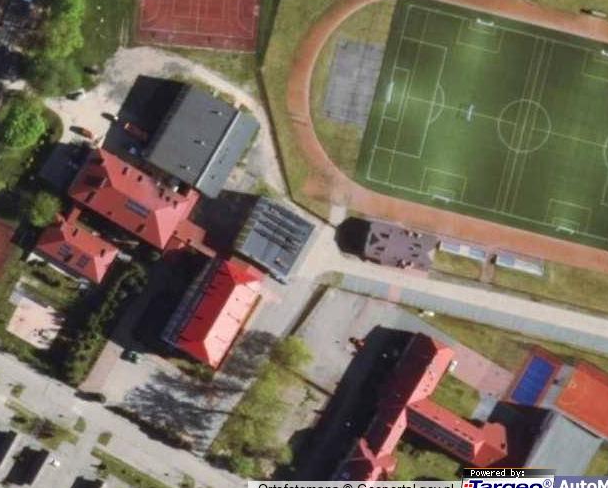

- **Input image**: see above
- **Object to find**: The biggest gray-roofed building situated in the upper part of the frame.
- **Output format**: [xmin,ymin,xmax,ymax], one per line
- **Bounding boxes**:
[148,84,259,197]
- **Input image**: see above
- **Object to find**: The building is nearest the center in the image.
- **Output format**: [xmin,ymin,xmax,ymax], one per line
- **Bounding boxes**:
[239,198,316,277]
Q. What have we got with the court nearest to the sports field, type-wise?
basketball court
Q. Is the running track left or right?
right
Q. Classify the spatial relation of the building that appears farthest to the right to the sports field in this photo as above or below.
below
